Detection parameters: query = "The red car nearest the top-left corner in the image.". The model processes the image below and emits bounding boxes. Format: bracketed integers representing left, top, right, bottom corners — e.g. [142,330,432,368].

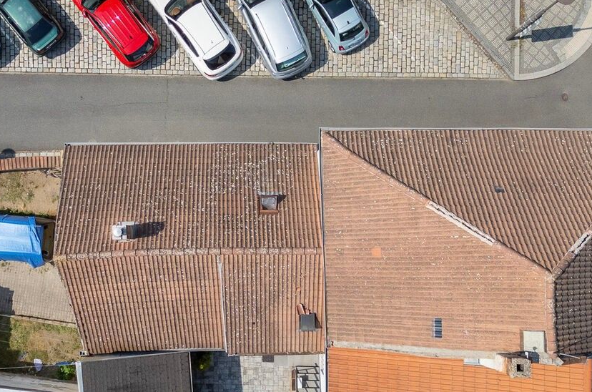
[71,0,159,70]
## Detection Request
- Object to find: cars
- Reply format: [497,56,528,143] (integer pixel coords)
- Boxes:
[0,0,65,58]
[71,0,159,70]
[149,0,244,80]
[302,0,371,55]
[231,0,313,80]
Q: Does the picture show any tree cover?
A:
No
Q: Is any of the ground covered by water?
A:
No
